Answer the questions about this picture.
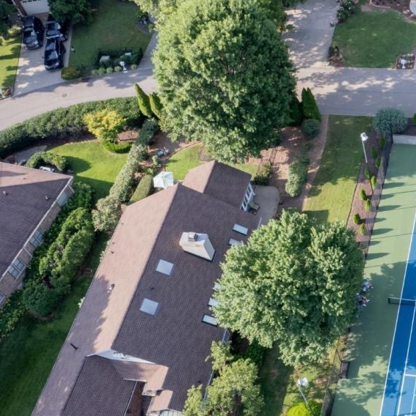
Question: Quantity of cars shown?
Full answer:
The photo contains 3 cars.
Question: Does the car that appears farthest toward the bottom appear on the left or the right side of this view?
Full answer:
The car that appears farthest toward the bottom is on the left side of the image.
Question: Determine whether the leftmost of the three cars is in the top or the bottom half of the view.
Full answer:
The top half of the photo is where the leftmost of the three cars is.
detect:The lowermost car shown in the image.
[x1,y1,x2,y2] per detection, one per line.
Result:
[42,38,66,71]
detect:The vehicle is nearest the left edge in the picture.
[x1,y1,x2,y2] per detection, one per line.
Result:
[19,16,44,52]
